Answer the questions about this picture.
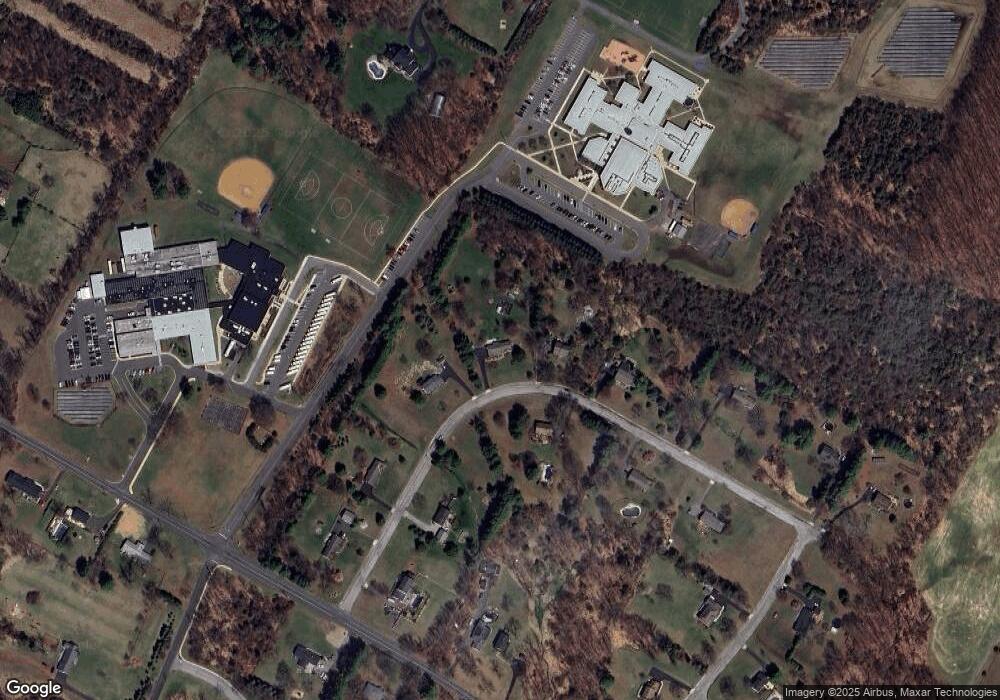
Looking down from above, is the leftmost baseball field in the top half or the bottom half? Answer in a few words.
top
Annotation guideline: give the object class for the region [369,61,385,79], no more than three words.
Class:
swimming pool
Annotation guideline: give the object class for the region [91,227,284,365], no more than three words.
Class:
building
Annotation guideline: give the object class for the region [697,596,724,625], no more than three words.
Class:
house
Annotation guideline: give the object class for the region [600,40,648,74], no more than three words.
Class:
playground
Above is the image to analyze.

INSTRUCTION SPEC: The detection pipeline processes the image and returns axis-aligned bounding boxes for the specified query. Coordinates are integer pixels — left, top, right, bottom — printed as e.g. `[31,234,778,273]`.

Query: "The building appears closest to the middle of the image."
[481,342,514,359]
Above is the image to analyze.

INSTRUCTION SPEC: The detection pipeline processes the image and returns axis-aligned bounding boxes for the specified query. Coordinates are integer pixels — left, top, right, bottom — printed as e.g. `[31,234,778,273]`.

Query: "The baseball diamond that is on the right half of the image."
[721,197,760,239]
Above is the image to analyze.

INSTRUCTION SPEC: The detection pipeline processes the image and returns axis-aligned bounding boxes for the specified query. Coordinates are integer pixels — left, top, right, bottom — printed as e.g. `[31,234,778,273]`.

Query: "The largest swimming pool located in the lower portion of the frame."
[621,506,641,518]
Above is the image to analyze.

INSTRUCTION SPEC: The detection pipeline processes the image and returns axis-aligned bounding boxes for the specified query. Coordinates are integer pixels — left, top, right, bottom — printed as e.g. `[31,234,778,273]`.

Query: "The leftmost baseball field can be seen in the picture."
[217,158,275,224]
